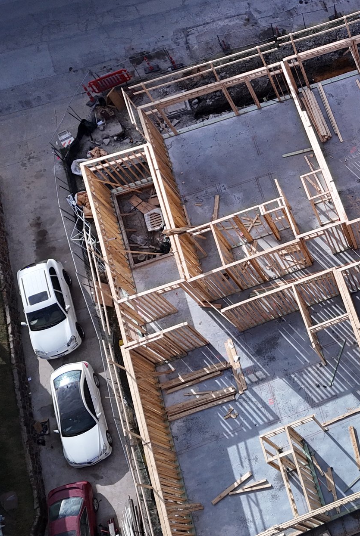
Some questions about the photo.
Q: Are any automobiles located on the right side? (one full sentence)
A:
No, on the right side there is no automobile.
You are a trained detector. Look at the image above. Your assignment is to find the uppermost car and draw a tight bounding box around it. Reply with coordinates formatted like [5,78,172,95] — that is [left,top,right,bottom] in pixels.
[19,260,80,362]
